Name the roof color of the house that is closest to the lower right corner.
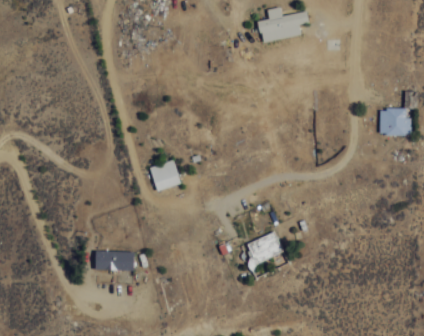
white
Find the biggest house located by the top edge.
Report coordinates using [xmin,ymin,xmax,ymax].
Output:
[259,6,310,42]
